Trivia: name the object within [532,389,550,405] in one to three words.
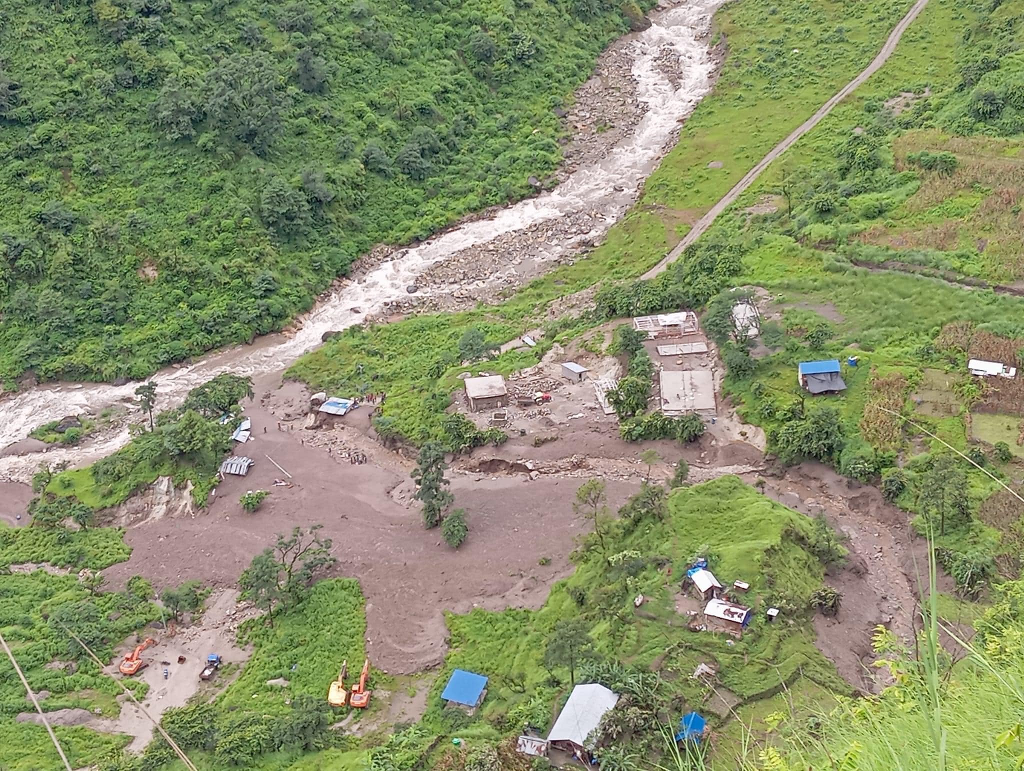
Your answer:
work vehicle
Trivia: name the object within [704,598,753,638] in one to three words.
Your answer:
shed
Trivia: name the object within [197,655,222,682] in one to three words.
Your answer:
truck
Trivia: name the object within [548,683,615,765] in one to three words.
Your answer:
house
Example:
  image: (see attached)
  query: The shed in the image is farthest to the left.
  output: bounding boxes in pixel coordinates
[321,395,352,419]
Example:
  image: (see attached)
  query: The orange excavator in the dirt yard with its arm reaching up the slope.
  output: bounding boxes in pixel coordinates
[118,638,154,678]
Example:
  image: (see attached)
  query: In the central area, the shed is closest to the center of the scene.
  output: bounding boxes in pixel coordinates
[465,375,508,411]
